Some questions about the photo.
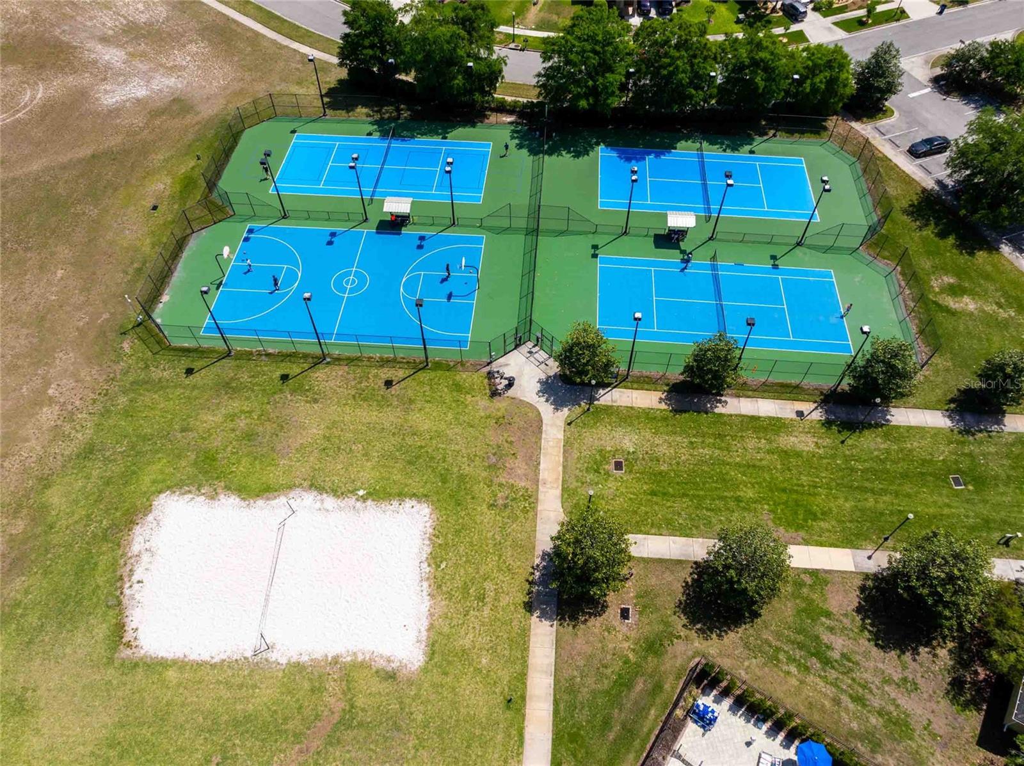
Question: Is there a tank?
No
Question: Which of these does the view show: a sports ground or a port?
sports ground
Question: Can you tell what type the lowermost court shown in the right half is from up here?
tennis court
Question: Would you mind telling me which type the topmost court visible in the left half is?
tennis court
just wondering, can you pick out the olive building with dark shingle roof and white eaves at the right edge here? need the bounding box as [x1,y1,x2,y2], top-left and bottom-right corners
[993,665,1024,739]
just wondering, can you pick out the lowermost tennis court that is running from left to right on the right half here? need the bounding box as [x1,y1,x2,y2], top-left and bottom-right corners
[530,230,924,387]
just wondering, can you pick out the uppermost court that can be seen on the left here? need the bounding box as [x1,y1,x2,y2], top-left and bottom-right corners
[212,116,546,230]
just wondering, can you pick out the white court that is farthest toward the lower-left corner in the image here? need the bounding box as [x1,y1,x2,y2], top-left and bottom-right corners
[119,488,432,676]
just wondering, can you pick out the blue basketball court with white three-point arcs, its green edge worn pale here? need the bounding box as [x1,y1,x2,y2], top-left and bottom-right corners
[151,213,539,362]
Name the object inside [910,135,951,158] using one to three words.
car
